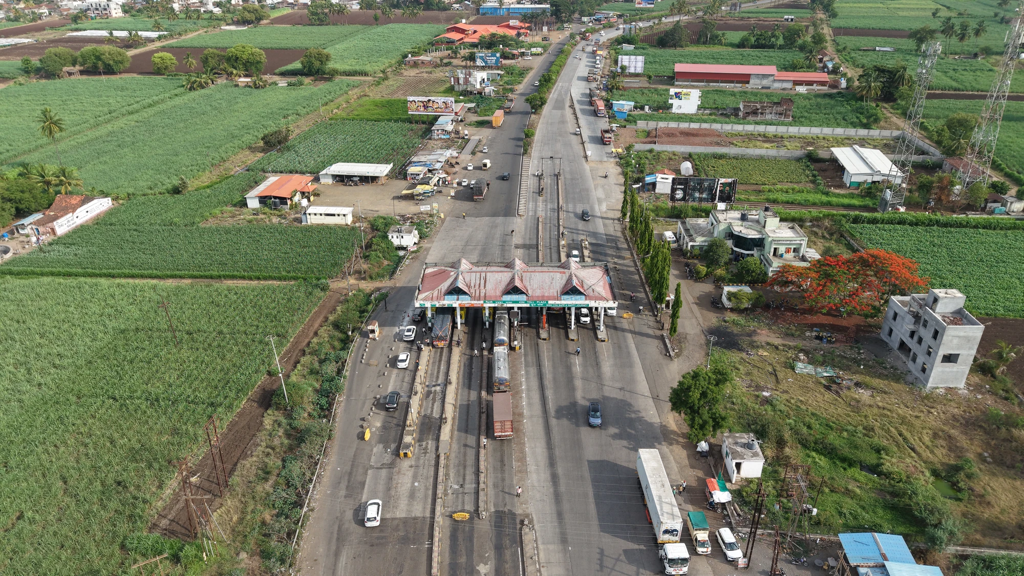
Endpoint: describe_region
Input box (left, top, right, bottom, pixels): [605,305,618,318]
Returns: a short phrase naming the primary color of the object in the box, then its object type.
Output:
white vehicle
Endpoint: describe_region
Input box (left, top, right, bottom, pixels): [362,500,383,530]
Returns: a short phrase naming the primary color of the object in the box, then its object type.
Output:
white car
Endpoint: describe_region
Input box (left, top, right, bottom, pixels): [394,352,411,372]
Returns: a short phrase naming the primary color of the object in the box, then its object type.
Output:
white car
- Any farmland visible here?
Yes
